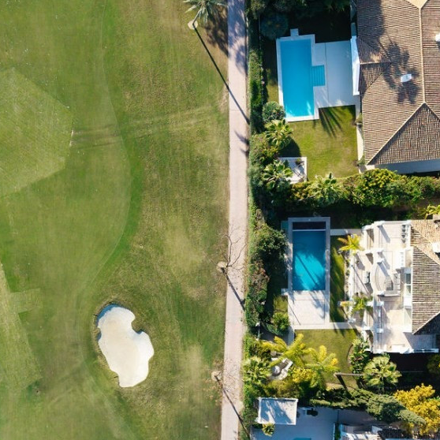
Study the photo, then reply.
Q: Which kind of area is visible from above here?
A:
golf course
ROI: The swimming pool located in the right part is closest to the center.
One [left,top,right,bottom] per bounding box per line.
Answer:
[289,217,331,294]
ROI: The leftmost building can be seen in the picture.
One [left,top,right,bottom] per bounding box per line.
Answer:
[254,398,298,425]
